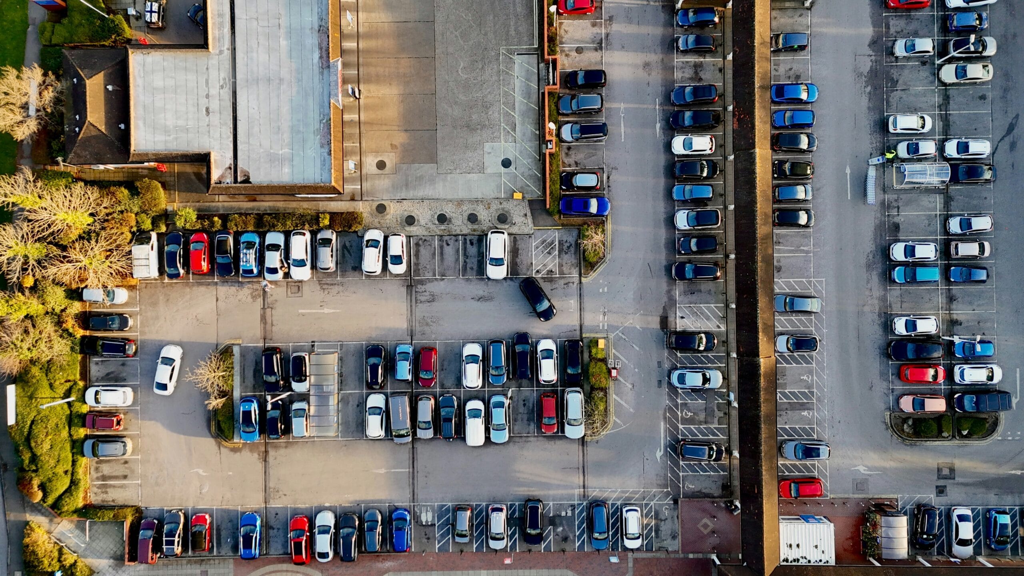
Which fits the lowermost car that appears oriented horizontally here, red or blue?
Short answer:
red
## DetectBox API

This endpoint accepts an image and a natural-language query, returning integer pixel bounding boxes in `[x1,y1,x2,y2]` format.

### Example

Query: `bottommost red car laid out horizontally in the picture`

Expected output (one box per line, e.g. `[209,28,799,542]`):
[778,477,823,499]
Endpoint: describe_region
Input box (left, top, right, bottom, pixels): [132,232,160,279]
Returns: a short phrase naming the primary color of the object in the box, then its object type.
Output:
white van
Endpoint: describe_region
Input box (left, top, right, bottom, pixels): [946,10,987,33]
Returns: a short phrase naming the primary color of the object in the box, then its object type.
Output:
blue car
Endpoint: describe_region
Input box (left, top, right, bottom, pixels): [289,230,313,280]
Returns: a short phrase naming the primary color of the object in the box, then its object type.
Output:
white car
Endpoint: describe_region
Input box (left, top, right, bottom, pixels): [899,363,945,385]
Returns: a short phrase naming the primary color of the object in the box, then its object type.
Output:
red car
